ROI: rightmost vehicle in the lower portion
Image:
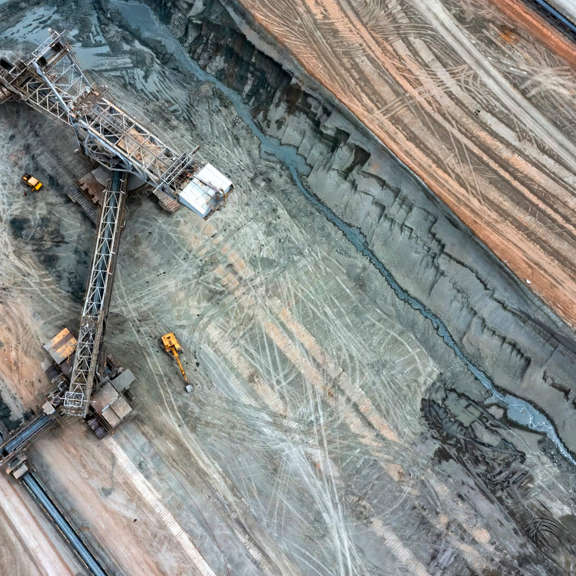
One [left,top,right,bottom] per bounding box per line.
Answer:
[158,335,194,400]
